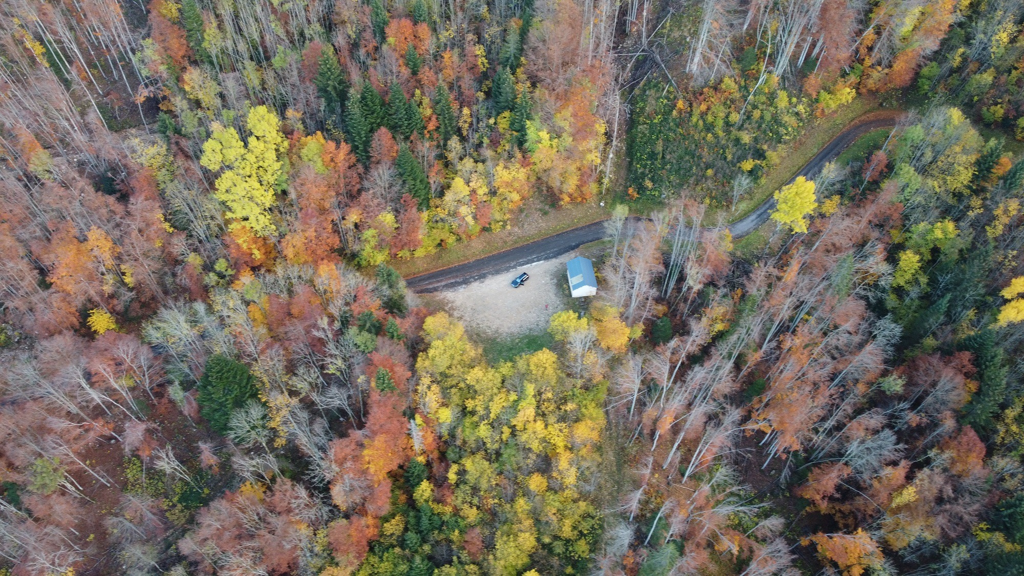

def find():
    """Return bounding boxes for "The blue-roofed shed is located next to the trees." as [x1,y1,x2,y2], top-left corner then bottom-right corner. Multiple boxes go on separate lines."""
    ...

[566,256,597,297]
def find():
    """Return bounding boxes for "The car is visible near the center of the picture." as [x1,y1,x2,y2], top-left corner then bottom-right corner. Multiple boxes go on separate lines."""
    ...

[512,271,530,287]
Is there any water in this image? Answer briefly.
No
